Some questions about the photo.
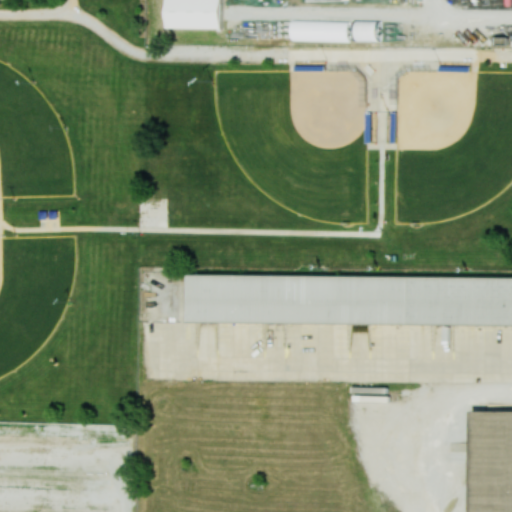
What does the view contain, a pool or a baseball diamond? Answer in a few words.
baseball diamond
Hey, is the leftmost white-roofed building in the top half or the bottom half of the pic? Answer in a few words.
top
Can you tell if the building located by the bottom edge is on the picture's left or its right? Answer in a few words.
right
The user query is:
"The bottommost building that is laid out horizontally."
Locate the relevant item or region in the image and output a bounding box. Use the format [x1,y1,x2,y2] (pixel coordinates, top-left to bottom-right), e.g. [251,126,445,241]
[184,272,512,322]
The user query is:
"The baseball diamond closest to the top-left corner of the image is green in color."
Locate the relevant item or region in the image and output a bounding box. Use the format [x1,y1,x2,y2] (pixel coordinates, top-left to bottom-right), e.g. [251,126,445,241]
[0,60,76,198]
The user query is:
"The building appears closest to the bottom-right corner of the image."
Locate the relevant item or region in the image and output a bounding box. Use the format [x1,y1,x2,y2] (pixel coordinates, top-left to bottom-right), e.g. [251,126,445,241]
[462,411,512,512]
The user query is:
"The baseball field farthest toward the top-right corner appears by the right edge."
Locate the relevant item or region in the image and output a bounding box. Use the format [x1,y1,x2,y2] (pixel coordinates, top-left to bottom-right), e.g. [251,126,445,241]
[396,71,512,225]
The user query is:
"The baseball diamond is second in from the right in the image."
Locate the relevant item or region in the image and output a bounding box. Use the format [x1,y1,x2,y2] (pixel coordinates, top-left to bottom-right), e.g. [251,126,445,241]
[214,70,368,226]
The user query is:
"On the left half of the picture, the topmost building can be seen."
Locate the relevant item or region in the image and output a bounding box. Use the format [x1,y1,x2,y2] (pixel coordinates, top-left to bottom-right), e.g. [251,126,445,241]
[162,0,223,31]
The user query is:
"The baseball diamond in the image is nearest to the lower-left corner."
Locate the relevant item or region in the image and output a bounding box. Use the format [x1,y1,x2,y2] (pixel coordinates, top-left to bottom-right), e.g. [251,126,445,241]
[0,236,78,380]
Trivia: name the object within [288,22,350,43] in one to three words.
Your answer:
greenhouse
